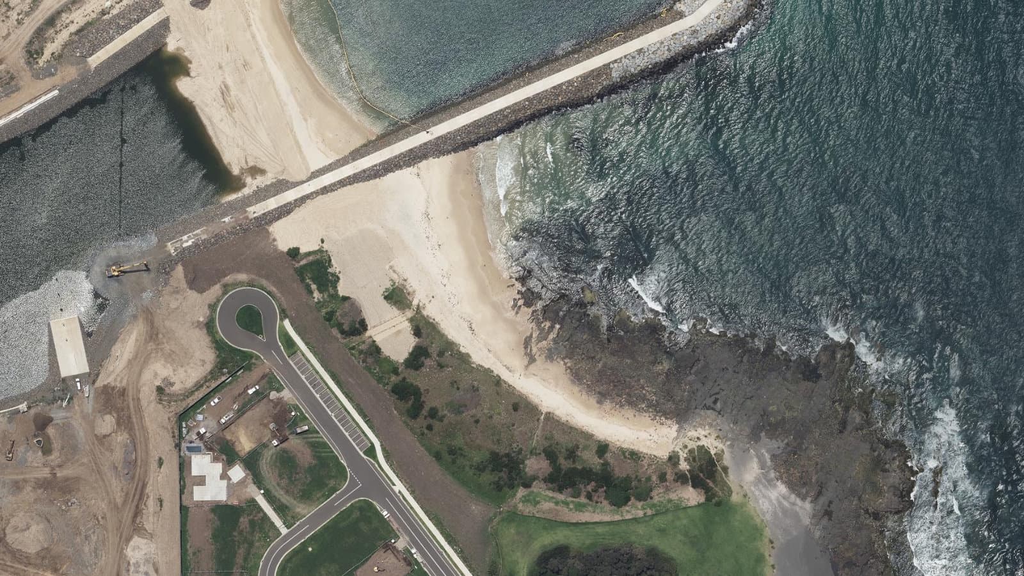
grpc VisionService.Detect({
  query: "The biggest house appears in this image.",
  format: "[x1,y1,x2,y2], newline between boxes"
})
[190,455,226,501]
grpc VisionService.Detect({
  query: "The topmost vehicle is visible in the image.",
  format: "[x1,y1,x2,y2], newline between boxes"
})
[108,259,146,275]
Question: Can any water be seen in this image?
Yes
